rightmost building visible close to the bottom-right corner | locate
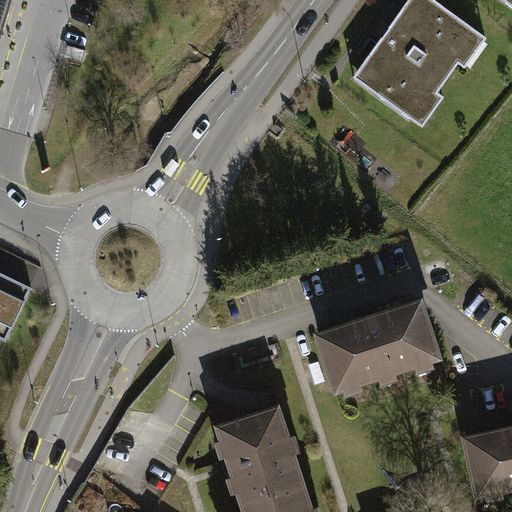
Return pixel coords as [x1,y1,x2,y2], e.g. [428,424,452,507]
[460,426,512,500]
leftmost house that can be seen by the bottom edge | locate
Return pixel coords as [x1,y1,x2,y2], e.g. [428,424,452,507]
[213,405,317,512]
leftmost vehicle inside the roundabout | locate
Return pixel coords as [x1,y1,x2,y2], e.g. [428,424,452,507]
[92,210,112,230]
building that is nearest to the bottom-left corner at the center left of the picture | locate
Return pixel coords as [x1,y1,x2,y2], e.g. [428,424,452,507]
[0,274,32,341]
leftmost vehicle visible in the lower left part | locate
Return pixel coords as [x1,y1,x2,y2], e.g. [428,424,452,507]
[23,437,36,462]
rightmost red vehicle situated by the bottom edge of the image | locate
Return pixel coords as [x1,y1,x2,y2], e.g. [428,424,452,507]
[147,476,166,491]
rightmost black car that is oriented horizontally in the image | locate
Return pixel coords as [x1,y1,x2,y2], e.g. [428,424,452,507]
[428,269,452,282]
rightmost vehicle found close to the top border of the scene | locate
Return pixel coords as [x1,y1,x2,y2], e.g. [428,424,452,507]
[296,11,316,34]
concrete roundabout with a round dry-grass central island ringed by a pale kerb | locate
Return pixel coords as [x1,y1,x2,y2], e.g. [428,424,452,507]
[58,188,198,330]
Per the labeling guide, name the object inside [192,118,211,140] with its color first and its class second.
white car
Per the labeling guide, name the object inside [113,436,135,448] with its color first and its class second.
black vehicle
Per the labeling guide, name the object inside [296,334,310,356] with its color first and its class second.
white car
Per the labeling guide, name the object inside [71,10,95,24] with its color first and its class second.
black vehicle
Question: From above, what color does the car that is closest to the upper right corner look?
black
